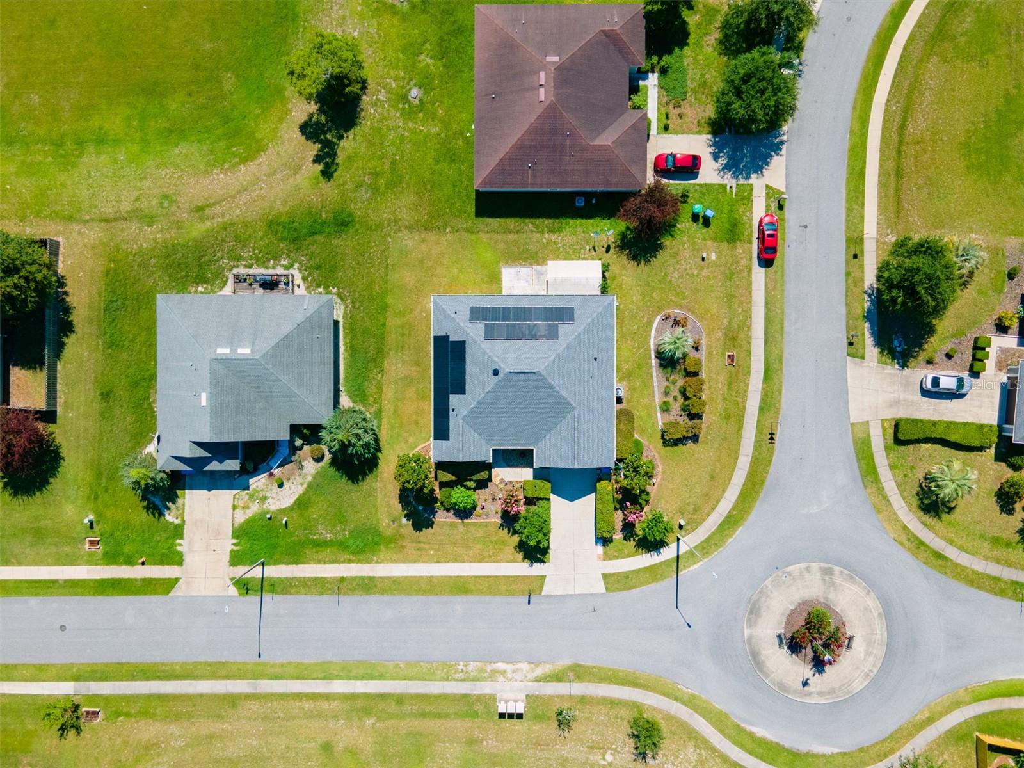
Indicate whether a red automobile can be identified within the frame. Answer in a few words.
Yes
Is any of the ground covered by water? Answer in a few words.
No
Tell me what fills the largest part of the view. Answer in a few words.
grass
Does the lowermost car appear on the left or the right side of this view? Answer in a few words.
right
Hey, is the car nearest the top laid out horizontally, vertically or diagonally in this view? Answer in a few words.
horizontally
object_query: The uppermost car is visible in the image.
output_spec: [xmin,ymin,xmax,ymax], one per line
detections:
[654,149,701,173]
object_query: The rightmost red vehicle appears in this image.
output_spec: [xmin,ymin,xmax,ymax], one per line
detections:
[756,213,781,260]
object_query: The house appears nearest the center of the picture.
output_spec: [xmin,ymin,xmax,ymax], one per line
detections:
[431,261,623,472]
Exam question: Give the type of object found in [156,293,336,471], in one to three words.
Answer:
house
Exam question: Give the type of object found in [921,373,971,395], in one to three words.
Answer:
car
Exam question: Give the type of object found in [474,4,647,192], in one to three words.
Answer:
house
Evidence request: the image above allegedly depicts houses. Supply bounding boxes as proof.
[431,261,623,472]
[0,327,10,406]
[1001,358,1024,444]
[474,4,647,192]
[156,293,336,471]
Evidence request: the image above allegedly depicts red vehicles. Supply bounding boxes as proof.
[654,149,701,173]
[756,213,781,260]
